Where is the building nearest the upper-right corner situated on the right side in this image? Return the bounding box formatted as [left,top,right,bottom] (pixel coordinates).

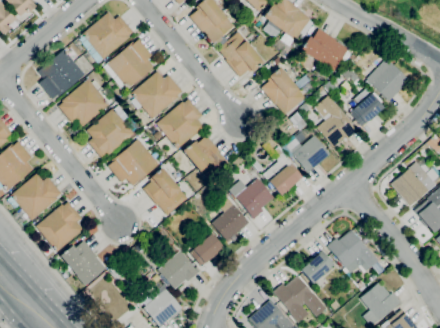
[364,61,404,102]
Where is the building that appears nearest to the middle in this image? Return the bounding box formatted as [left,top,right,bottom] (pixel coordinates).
[184,137,222,190]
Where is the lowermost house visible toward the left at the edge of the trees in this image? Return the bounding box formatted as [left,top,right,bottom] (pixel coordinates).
[144,286,180,326]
